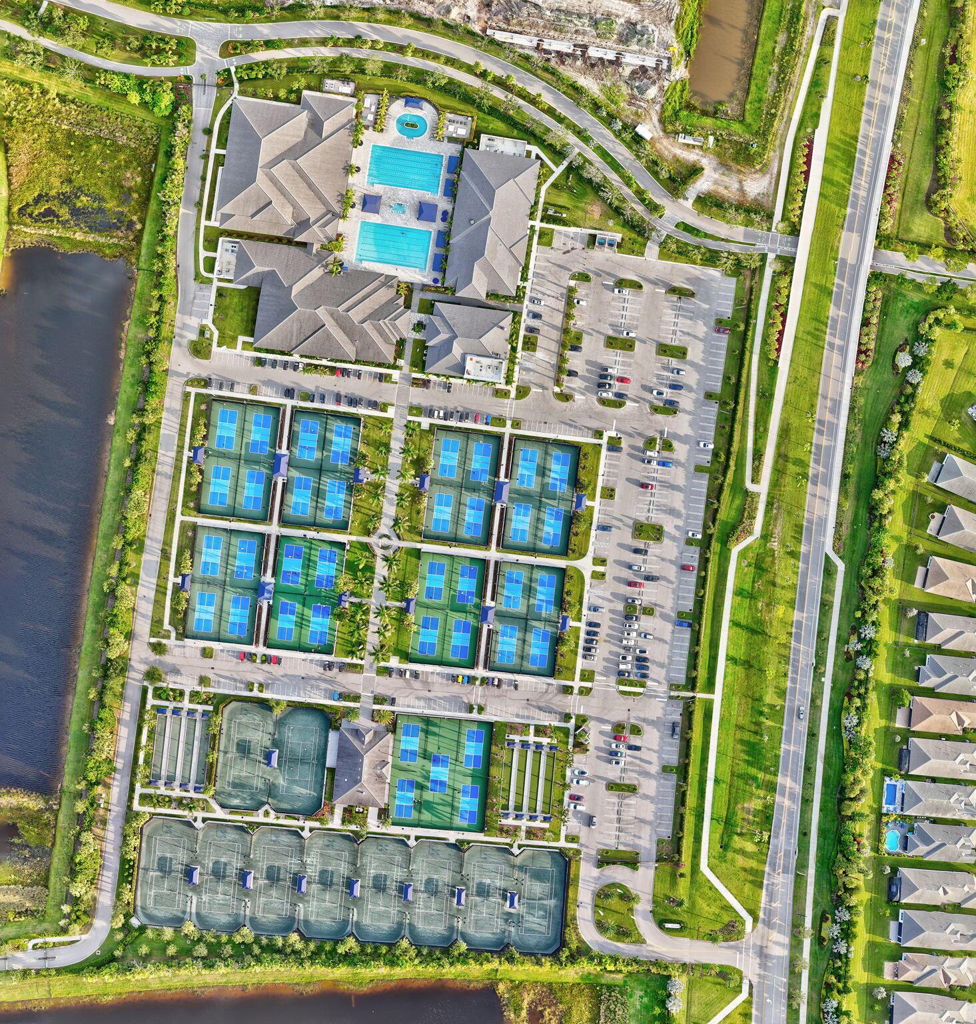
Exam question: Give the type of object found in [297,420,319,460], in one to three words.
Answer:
sports court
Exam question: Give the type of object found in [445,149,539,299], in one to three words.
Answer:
building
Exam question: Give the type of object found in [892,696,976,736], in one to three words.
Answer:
house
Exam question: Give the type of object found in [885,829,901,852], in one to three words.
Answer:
swimming pool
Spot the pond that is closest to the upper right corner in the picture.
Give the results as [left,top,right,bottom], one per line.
[690,0,748,100]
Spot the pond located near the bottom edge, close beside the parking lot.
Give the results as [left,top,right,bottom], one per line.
[0,984,500,1024]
